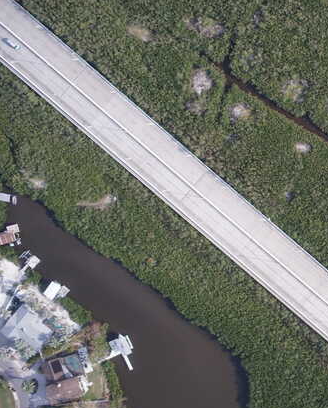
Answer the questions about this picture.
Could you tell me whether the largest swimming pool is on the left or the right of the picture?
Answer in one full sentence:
The largest swimming pool sits on the left side.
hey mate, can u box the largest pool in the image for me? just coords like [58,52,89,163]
[62,351,85,380]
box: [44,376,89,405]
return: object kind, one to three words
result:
house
